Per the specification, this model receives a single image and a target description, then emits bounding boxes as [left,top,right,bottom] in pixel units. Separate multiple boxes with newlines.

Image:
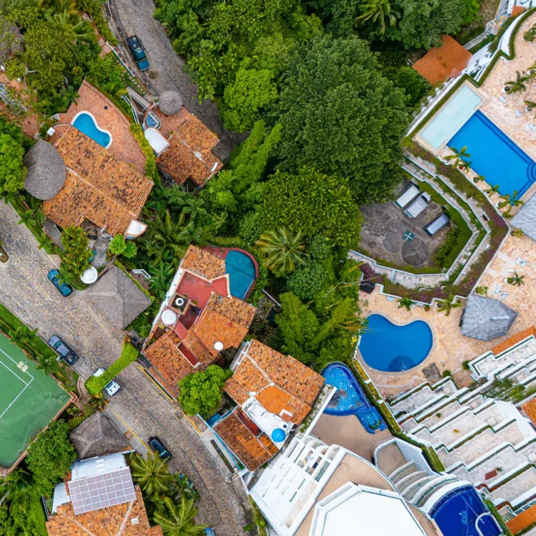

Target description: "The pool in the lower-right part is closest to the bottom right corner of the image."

[424,479,506,536]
